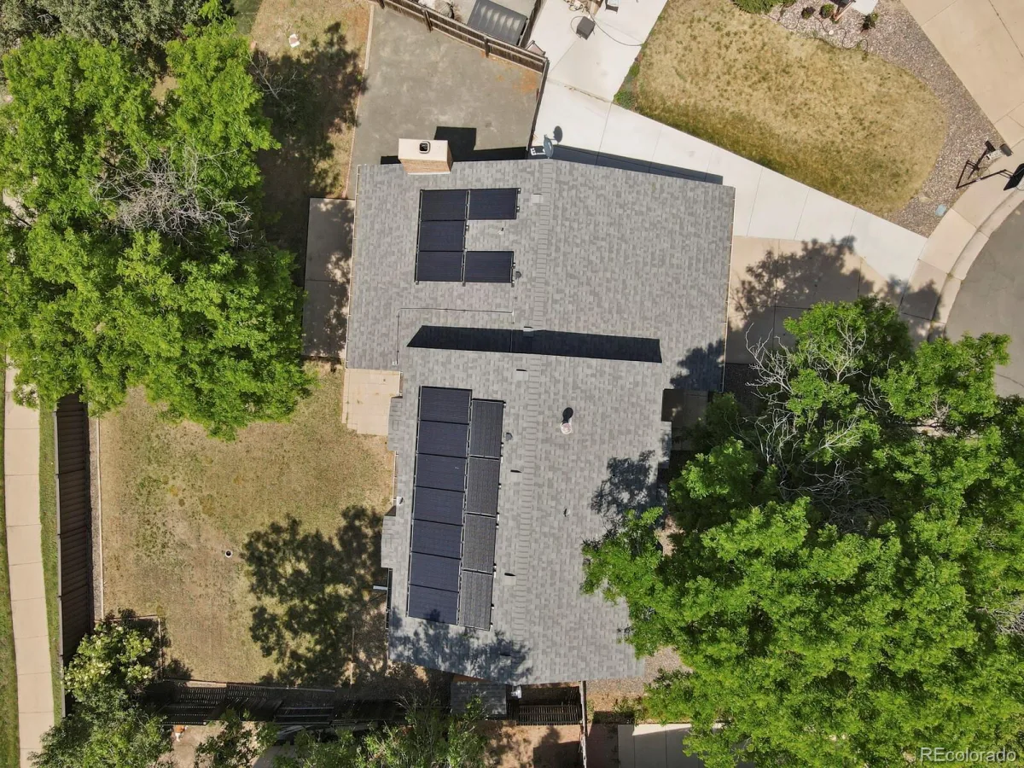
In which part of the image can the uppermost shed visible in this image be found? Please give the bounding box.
[468,0,527,47]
